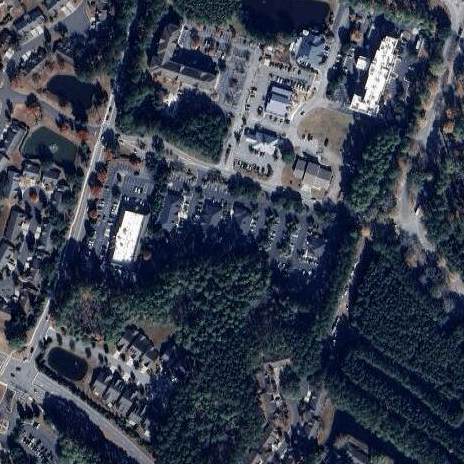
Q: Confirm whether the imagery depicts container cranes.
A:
No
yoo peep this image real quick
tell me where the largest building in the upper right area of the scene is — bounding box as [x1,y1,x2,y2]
[350,36,404,113]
